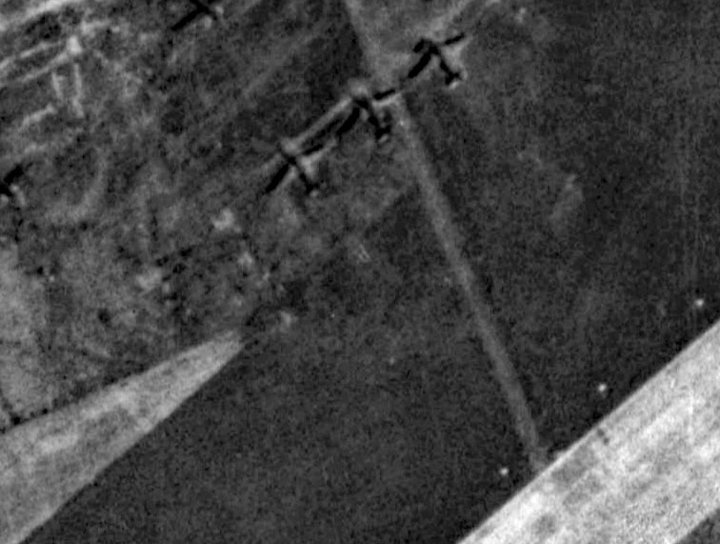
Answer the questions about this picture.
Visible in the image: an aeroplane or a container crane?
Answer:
aeroplane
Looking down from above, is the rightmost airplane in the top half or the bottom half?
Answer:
top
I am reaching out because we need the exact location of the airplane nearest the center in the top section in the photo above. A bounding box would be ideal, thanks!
[274,146,334,198]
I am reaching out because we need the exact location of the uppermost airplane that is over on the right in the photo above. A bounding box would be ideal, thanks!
[415,36,475,86]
